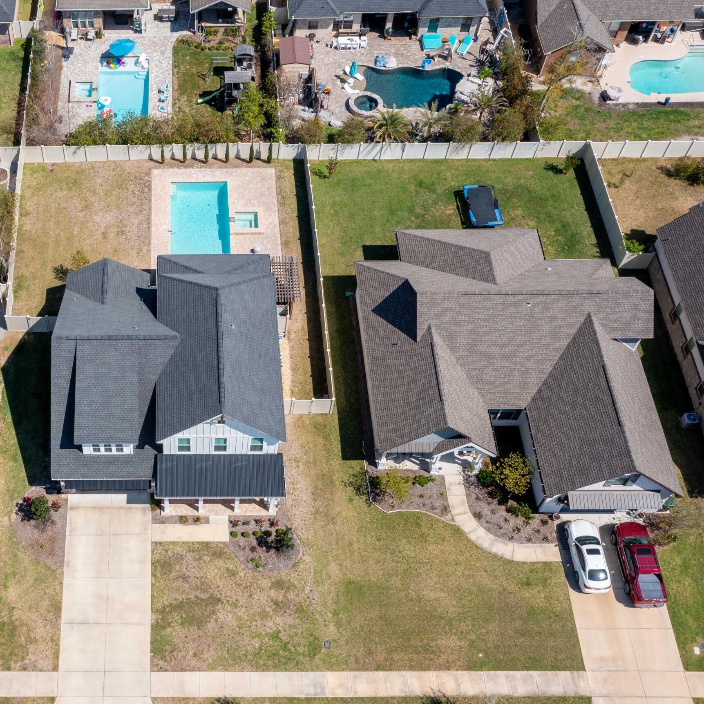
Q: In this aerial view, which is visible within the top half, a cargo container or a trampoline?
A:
trampoline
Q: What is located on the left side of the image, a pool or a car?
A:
pool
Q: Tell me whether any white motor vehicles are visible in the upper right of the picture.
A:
No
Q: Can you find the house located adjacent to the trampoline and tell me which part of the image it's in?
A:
right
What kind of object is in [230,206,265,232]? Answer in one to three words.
swimming pool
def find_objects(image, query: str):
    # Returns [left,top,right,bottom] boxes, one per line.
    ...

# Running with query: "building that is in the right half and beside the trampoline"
[351,229,684,510]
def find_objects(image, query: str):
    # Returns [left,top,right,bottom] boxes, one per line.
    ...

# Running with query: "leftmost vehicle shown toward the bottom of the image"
[568,517,618,595]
